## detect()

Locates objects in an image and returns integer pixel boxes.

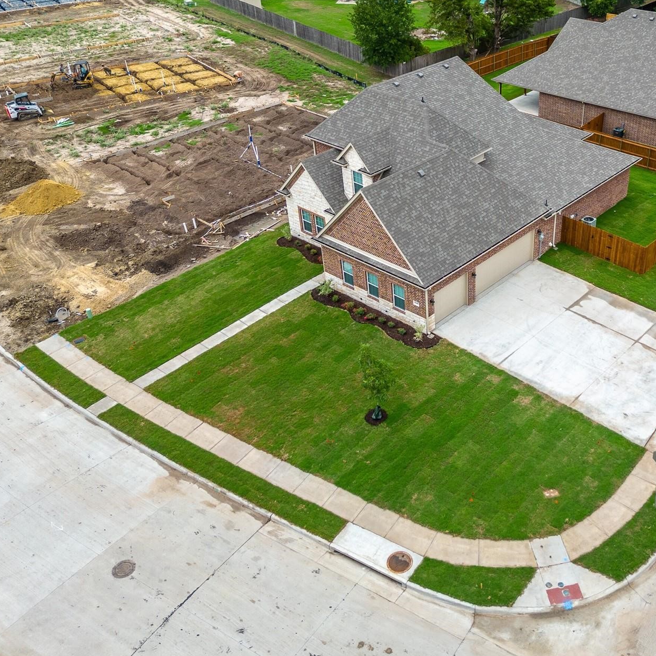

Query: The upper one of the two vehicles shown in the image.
[46,58,94,90]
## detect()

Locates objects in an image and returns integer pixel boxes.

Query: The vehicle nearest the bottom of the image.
[3,90,53,119]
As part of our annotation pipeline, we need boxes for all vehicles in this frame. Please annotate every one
[3,90,53,119]
[46,58,94,90]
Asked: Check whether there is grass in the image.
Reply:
Yes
